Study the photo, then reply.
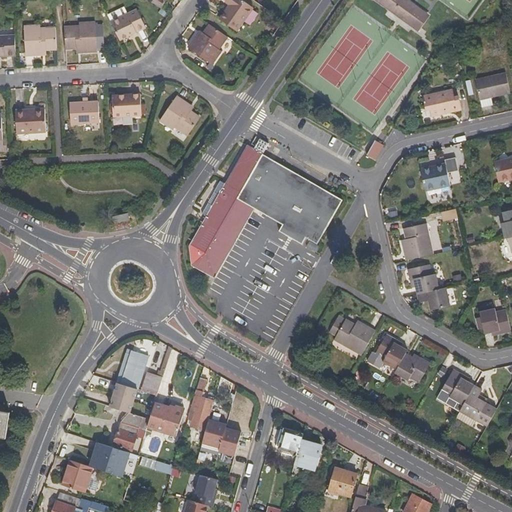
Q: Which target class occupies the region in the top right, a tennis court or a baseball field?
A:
tennis court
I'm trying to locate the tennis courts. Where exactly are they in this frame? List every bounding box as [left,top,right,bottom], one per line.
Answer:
[334,31,426,131]
[438,0,488,20]
[298,4,388,105]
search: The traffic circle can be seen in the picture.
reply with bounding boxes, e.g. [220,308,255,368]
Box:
[109,260,156,306]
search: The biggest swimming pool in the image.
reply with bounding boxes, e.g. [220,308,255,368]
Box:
[148,436,160,454]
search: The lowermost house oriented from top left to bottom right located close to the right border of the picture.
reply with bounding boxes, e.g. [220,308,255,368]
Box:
[442,370,498,427]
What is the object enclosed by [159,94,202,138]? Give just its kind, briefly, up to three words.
house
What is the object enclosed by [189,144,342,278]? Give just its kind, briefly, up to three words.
building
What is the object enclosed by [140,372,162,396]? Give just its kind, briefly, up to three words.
building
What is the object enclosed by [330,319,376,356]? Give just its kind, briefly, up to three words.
house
